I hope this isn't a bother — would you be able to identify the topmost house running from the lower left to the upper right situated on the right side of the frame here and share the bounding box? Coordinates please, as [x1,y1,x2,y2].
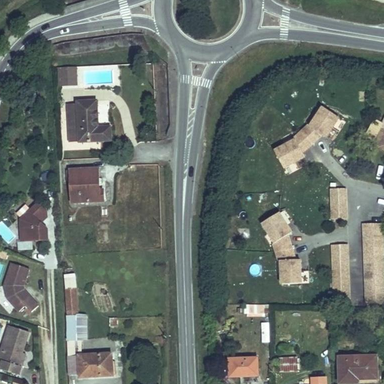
[273,105,340,170]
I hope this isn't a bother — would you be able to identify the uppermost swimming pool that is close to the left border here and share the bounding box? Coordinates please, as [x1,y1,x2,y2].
[0,221,16,244]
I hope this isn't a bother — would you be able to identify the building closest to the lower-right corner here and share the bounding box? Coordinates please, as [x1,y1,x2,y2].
[336,354,380,384]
